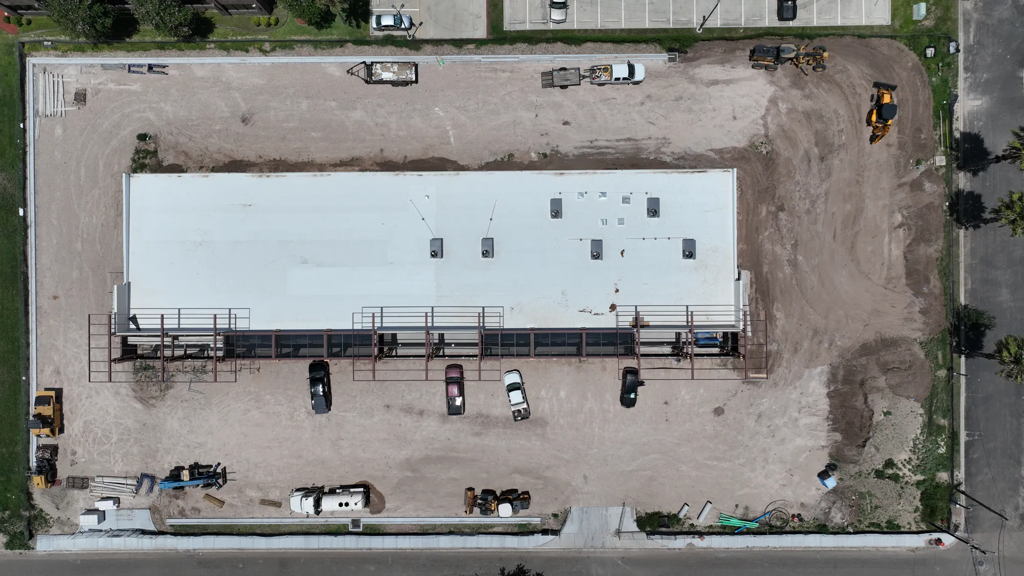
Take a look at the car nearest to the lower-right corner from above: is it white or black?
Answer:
black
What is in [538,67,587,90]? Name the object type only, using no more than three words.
trailer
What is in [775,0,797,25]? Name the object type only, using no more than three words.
truck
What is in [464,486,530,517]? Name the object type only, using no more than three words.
work vehicle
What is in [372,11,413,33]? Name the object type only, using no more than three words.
car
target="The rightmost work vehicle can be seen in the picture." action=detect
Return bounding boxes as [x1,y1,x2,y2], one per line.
[864,79,900,140]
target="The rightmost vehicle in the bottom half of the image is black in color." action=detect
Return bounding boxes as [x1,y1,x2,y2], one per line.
[619,366,645,408]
